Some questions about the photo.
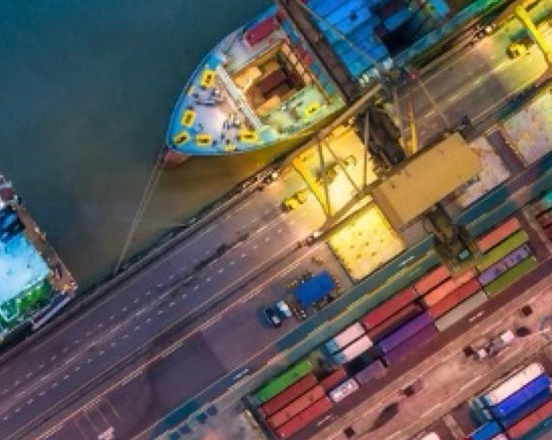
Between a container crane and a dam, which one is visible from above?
container crane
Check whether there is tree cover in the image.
No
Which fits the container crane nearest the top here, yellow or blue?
yellow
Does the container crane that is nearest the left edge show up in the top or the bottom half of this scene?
top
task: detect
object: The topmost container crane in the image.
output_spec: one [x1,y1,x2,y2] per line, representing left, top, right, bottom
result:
[476,0,552,99]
